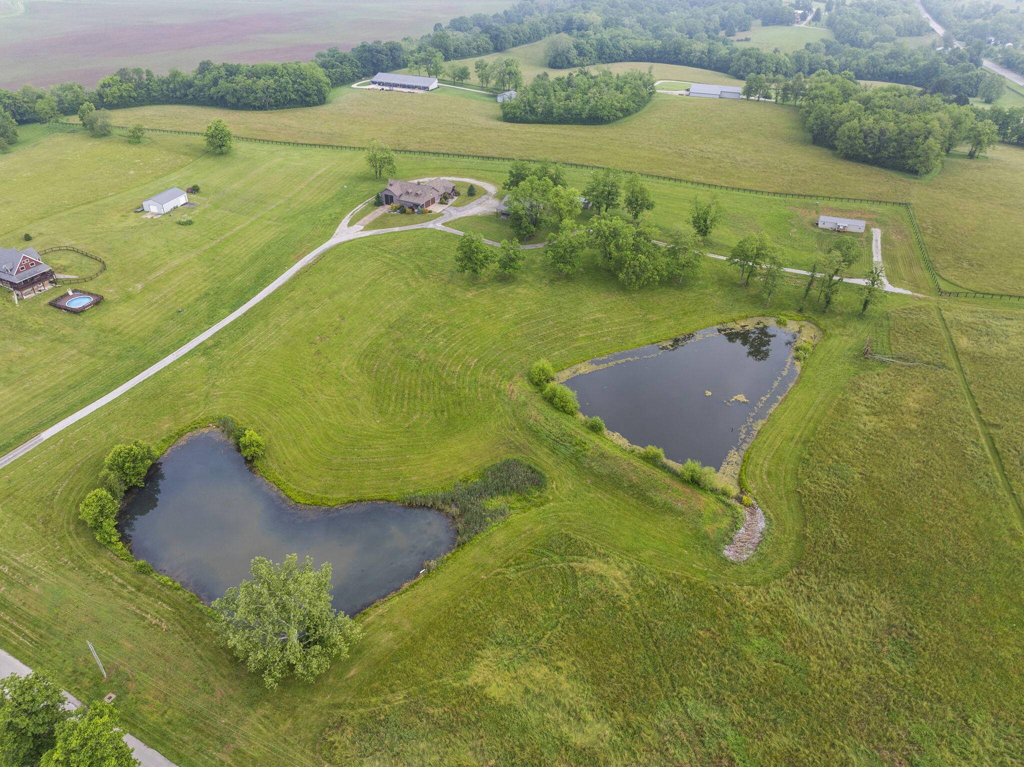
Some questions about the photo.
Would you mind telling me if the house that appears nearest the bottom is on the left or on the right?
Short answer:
left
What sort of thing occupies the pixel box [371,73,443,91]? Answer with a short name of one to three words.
barn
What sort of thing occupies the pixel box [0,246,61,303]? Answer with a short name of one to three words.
house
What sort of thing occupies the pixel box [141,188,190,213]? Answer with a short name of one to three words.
building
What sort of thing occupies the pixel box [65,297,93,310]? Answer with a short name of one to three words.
swimming pool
